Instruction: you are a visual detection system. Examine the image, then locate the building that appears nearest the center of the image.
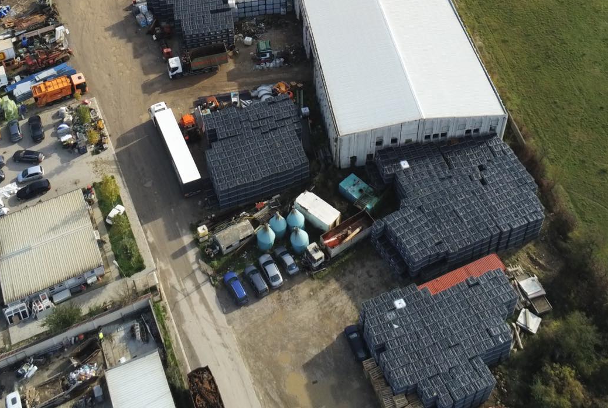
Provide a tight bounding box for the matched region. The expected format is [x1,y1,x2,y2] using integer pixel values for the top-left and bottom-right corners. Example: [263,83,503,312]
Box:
[341,177,384,212]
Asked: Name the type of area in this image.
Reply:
industrial area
